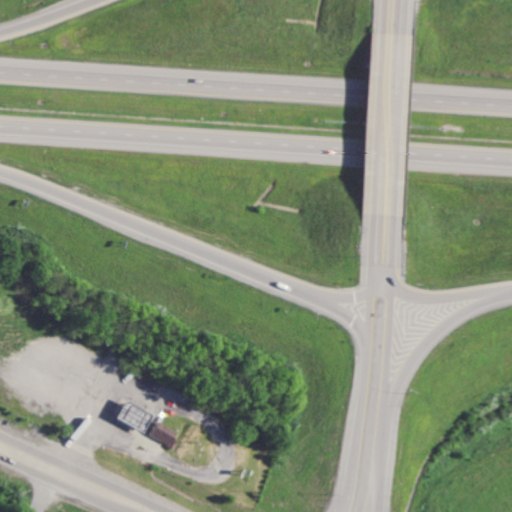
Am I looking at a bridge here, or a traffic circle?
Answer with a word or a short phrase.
bridge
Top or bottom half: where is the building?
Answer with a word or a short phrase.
bottom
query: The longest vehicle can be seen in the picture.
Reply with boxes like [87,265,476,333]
[65,414,92,448]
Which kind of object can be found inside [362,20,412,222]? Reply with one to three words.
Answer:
bridge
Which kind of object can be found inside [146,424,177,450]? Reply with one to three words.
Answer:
building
